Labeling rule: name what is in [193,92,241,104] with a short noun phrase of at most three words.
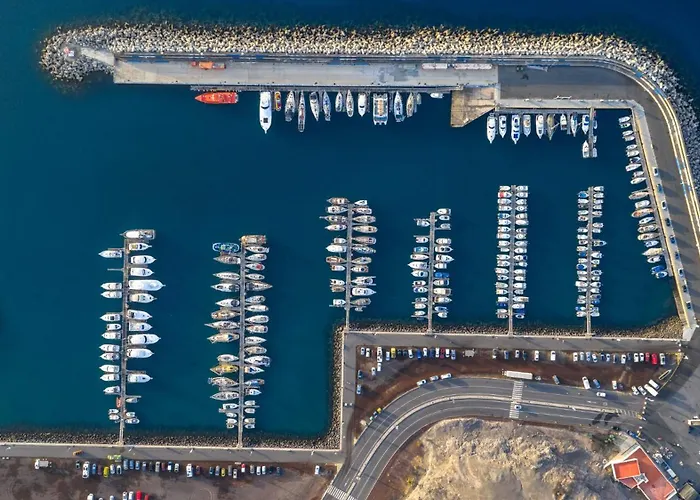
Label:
ship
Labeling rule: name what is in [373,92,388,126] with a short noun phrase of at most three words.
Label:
boat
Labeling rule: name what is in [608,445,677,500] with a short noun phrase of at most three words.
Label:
building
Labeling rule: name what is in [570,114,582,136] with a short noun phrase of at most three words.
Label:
boat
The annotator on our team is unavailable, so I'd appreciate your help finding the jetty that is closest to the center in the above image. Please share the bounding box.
[328,203,369,333]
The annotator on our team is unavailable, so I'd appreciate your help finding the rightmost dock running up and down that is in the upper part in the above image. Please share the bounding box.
[621,111,671,276]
